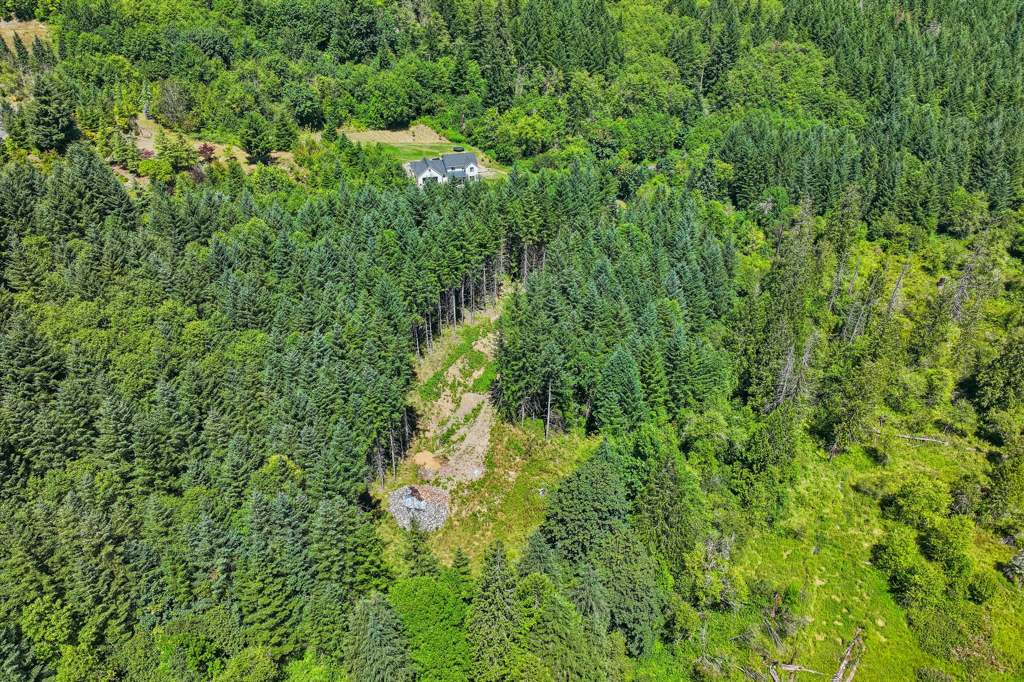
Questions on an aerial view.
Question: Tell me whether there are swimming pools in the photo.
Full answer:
No, the photo shows no swimming pool.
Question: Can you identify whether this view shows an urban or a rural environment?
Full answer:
The area shown here is rural.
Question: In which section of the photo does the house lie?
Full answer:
The house is in the top part of the image.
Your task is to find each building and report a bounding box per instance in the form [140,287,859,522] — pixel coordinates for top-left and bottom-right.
[409,153,480,185]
